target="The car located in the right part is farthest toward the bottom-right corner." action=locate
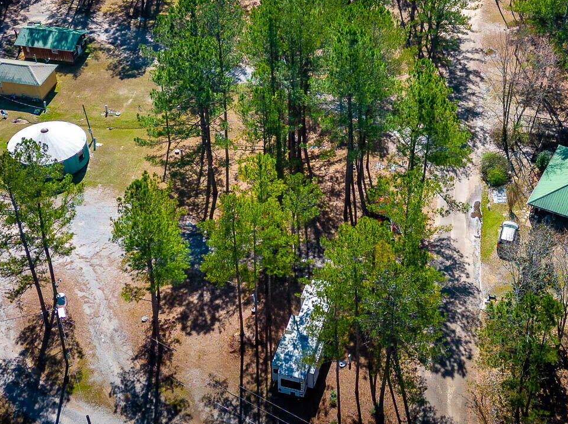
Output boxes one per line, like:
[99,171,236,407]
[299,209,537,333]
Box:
[498,222,519,255]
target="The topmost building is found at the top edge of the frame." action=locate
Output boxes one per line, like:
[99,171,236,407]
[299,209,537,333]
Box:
[14,15,94,65]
